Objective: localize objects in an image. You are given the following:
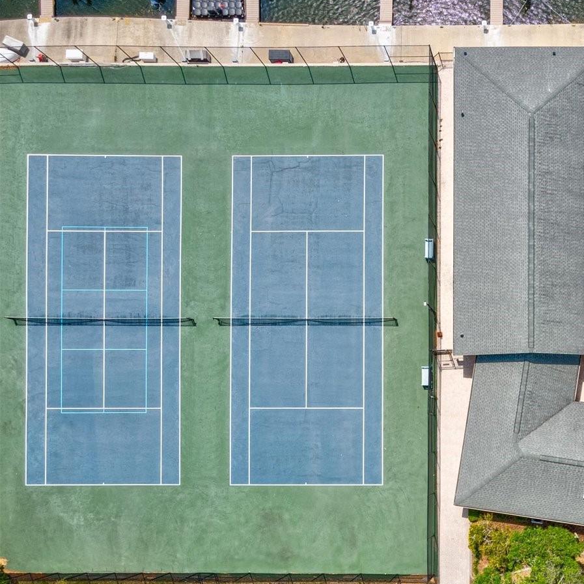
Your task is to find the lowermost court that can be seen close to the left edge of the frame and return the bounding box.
[0,65,207,575]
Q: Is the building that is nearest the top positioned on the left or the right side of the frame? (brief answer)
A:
right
